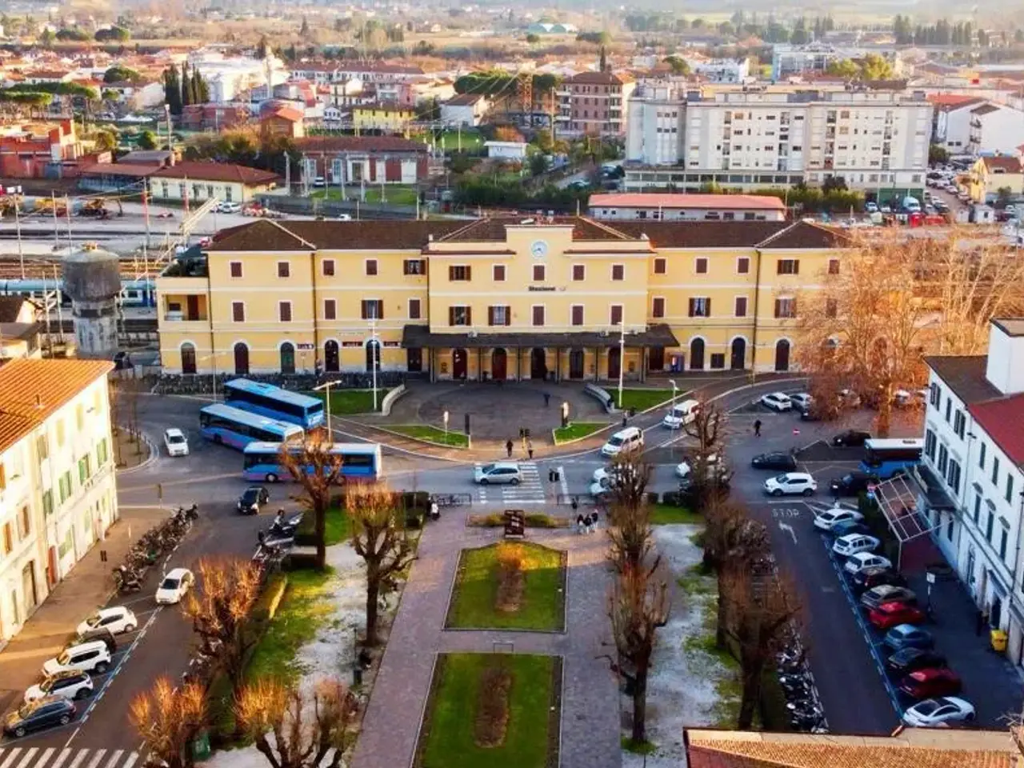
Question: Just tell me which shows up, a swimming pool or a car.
car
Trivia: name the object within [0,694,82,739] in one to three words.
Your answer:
car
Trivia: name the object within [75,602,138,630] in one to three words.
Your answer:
car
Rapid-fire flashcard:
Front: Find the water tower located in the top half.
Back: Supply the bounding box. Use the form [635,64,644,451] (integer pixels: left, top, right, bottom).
[57,238,130,357]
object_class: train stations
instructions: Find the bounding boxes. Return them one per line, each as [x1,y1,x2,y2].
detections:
[157,206,928,383]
